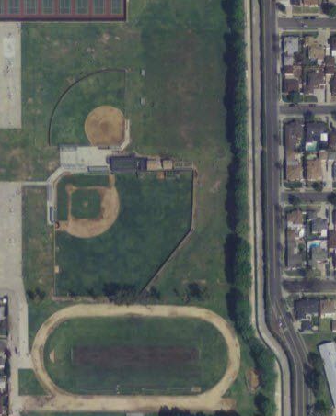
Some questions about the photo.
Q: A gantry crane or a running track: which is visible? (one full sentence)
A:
Visible in the photo is a running track.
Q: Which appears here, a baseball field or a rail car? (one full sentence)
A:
This aerial view contains a baseball field.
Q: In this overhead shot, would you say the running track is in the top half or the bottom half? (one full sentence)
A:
It is in the bottom half that the running track appears.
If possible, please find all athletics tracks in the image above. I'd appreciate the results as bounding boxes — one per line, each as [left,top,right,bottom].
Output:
[21,304,239,412]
